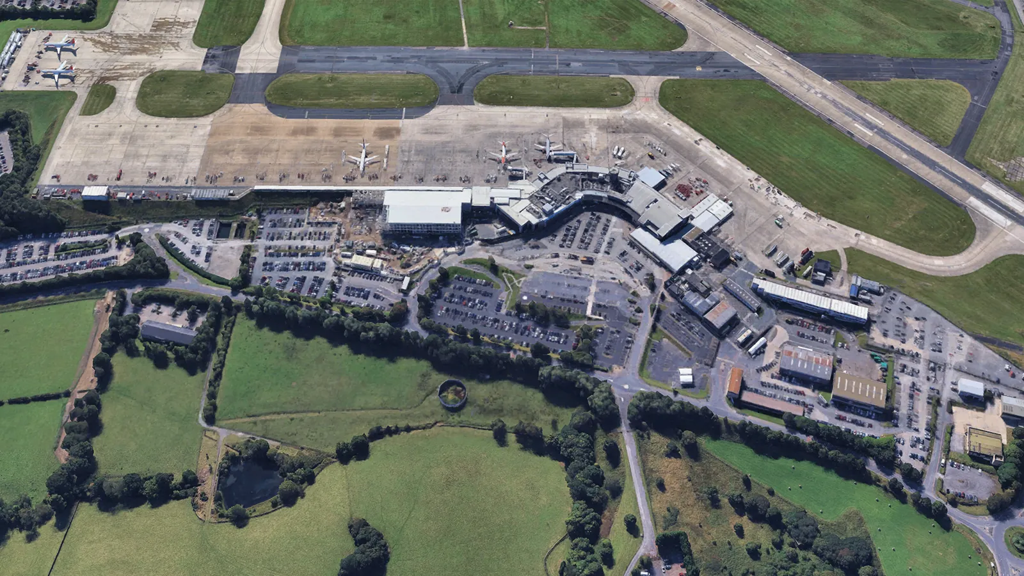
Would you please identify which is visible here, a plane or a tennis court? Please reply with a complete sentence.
Looking from above, you can make out a plane.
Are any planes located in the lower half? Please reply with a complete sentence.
No, there is no plane in the lower half.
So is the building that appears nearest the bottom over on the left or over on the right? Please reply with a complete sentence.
It is on the right.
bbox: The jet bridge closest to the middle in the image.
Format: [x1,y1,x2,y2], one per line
[506,166,526,179]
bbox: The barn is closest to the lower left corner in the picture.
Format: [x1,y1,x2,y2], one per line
[142,320,196,346]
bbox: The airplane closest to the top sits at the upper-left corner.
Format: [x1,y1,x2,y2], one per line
[44,32,75,55]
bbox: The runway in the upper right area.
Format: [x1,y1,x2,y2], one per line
[649,0,1024,241]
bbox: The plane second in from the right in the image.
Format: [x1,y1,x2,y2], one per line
[489,142,518,167]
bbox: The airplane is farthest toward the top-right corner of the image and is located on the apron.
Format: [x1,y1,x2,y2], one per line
[533,133,562,161]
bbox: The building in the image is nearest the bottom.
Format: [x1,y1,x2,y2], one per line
[966,427,1003,457]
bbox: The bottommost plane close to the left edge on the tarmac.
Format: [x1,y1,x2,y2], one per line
[43,60,74,83]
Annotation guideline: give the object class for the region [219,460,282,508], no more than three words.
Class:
pond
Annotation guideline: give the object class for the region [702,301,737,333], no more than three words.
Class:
hangar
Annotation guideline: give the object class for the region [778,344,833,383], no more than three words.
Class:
building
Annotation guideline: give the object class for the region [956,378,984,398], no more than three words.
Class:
shed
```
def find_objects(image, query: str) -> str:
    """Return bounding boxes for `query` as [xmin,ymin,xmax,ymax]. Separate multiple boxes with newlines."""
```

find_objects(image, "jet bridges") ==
[506,166,526,179]
[549,152,577,163]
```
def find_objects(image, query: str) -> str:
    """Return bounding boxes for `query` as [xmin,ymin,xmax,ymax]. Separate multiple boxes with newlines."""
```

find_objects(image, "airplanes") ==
[43,60,74,83]
[489,142,518,167]
[347,143,378,175]
[533,133,562,161]
[44,32,75,55]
